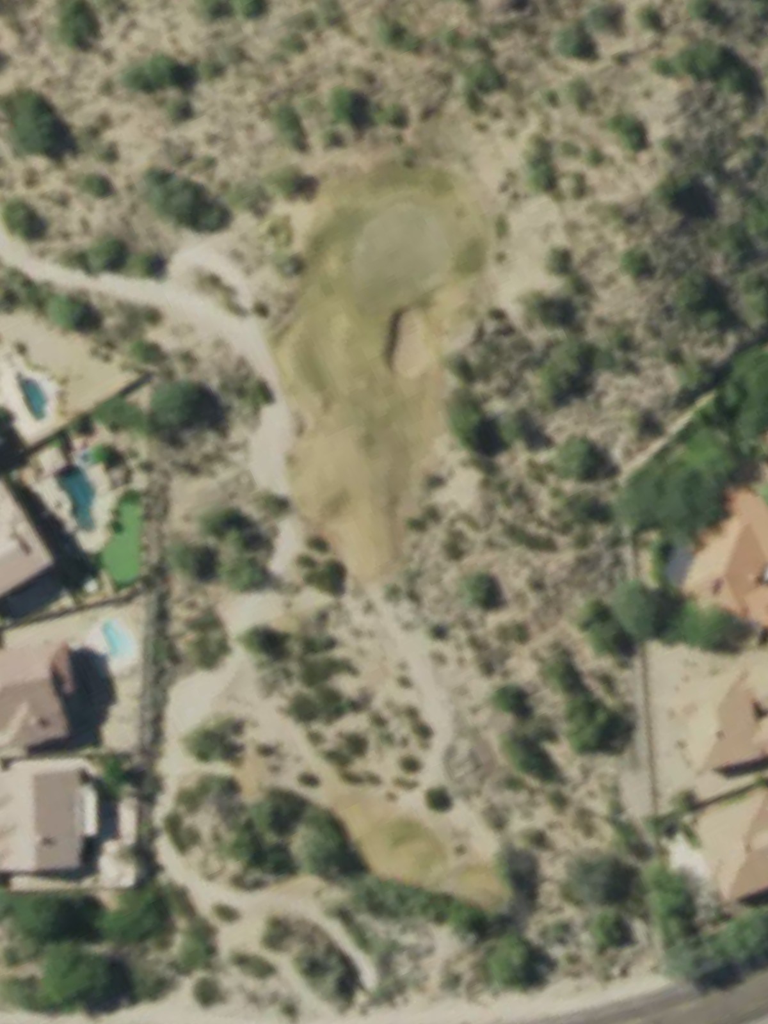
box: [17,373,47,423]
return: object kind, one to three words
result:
swimming pool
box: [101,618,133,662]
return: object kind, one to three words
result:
swimming pool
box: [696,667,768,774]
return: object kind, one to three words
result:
house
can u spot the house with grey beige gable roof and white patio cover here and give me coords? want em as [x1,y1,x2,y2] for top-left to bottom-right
[0,771,84,874]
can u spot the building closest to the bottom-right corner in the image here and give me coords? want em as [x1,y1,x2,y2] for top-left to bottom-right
[704,793,768,905]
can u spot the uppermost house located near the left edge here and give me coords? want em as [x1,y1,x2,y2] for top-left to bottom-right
[0,483,51,591]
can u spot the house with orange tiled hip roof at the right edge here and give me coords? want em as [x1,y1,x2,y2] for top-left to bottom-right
[685,489,768,624]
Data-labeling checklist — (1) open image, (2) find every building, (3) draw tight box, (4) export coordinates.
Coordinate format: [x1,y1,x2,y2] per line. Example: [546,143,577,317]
[0,642,75,756]
[696,667,768,774]
[685,489,768,624]
[0,483,51,591]
[0,771,84,874]
[704,793,768,905]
